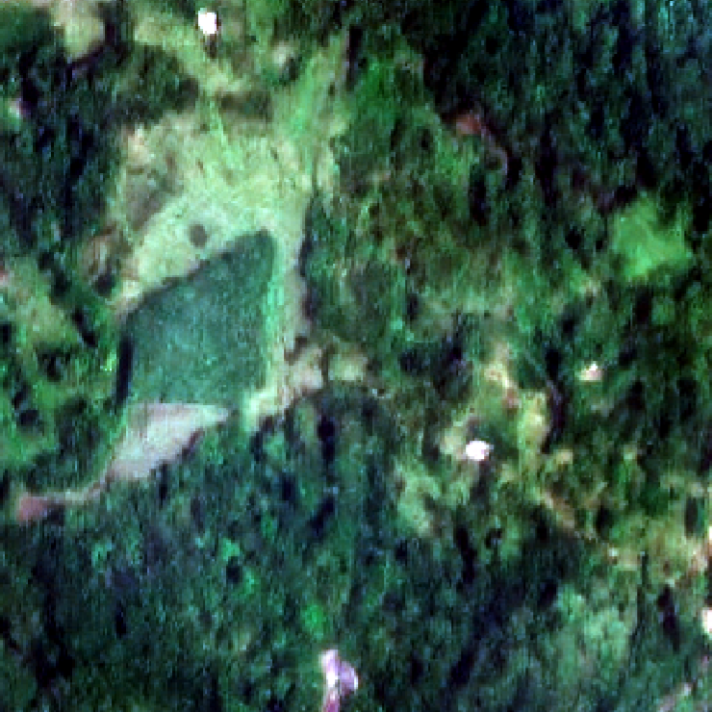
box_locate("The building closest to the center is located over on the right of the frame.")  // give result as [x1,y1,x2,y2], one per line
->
[464,440,487,460]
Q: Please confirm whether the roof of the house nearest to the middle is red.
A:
No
